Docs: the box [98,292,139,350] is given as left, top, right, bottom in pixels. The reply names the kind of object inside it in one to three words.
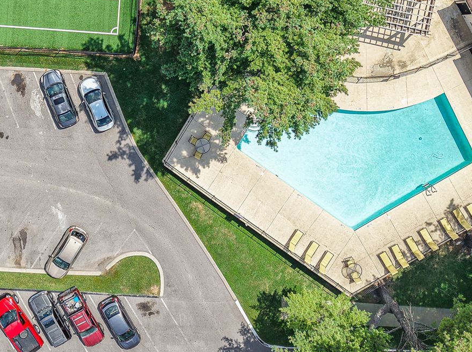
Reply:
car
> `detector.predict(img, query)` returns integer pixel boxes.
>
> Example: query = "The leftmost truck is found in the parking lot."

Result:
[0,292,44,352]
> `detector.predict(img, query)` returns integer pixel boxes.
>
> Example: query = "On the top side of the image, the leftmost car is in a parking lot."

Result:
[41,68,78,131]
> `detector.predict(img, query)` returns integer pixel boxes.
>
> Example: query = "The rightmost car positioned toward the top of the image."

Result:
[80,75,114,135]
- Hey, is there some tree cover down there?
Yes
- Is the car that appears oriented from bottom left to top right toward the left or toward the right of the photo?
left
